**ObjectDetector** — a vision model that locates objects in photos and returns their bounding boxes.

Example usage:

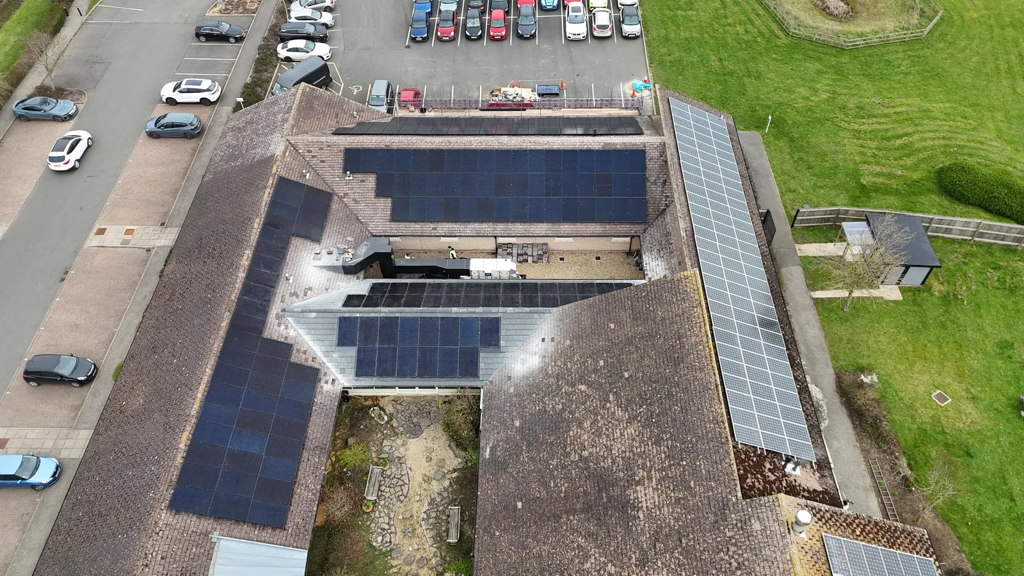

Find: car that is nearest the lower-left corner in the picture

[0,447,57,489]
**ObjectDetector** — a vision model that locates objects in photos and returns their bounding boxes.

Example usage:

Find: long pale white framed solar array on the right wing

[670,96,815,466]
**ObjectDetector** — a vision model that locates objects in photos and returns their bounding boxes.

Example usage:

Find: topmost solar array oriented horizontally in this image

[333,115,643,133]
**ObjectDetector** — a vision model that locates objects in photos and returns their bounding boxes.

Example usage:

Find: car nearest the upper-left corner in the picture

[9,95,74,121]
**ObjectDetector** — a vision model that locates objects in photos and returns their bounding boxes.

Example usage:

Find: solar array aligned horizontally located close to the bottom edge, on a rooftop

[823,533,941,576]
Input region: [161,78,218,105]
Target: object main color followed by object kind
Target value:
white car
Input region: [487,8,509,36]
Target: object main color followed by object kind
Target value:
red car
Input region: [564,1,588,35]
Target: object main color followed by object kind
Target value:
white car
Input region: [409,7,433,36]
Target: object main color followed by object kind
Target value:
blue car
